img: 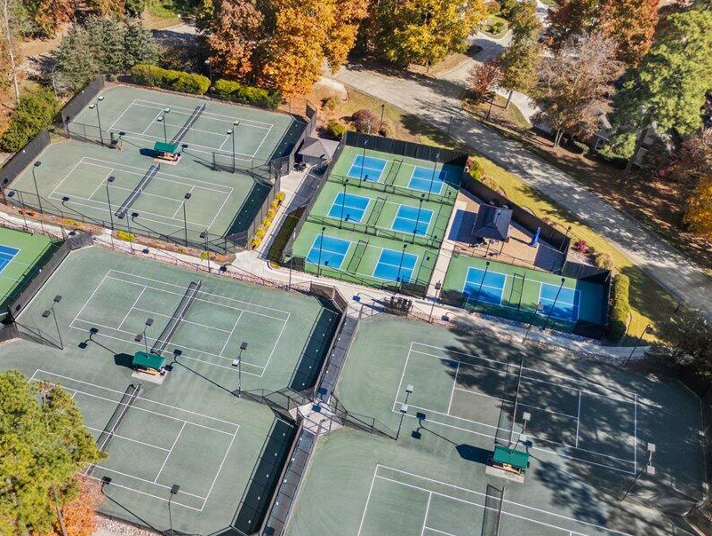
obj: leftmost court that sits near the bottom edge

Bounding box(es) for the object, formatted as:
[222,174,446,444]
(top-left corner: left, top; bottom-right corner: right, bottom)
[0,323,315,536]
